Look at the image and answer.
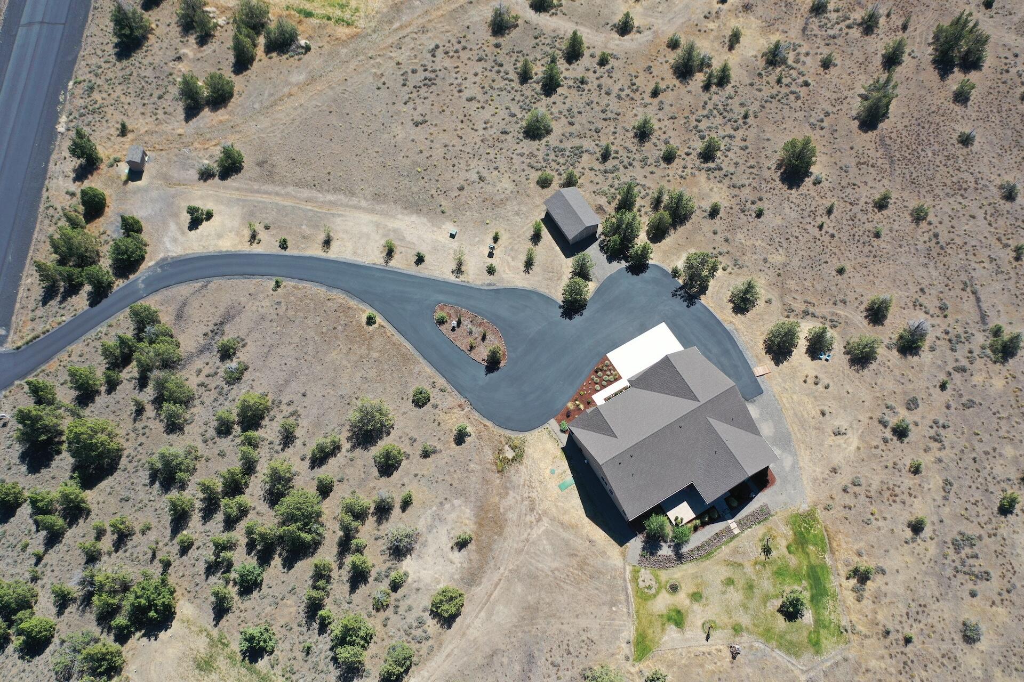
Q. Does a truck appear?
No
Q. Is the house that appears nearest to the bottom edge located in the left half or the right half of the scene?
right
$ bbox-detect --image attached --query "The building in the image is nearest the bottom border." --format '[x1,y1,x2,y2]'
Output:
[566,342,782,524]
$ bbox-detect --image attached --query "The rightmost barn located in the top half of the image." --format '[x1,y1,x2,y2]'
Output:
[544,187,602,246]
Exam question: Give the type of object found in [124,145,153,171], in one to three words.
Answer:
shed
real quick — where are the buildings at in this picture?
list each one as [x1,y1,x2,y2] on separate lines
[544,187,602,246]
[566,342,782,524]
[124,145,153,171]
